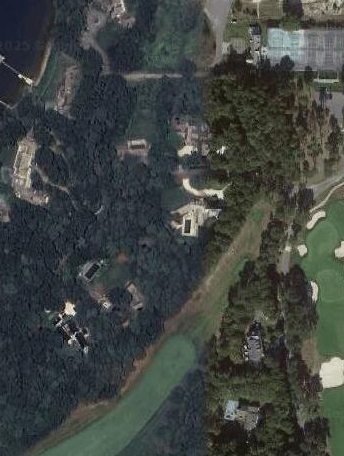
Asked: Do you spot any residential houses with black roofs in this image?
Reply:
Yes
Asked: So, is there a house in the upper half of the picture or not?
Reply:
Yes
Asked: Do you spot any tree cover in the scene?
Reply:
Yes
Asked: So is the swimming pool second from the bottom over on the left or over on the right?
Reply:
left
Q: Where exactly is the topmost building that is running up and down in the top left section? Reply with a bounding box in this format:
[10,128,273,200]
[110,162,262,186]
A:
[57,66,77,111]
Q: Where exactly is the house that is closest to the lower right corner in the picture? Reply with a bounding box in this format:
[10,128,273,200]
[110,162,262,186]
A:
[235,405,258,428]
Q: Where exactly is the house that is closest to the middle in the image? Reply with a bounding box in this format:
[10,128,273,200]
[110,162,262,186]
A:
[193,199,221,217]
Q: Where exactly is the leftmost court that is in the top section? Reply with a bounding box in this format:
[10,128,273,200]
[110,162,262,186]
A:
[267,28,285,70]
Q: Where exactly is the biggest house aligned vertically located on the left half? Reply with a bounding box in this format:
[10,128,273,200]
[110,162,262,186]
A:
[13,134,35,193]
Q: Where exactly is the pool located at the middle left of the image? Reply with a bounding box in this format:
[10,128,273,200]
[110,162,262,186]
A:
[81,260,104,283]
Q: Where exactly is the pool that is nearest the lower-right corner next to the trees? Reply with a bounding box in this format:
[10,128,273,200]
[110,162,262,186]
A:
[224,401,237,420]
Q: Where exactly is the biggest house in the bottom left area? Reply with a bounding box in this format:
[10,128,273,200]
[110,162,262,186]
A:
[50,312,92,353]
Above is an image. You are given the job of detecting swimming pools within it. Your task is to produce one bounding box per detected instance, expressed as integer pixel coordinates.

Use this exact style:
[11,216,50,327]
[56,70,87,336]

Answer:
[182,210,197,236]
[224,401,237,420]
[81,260,104,283]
